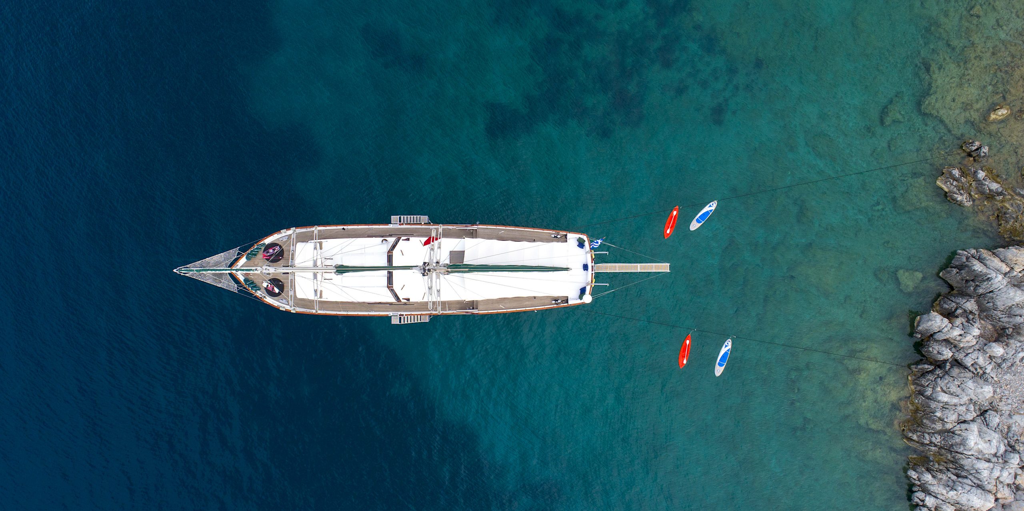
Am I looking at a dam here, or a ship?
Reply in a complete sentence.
Visible in the photo is a ship.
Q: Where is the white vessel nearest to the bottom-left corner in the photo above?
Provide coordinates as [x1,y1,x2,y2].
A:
[173,216,670,324]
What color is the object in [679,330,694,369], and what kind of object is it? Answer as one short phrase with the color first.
red boat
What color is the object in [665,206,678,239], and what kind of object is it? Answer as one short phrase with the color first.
red boat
